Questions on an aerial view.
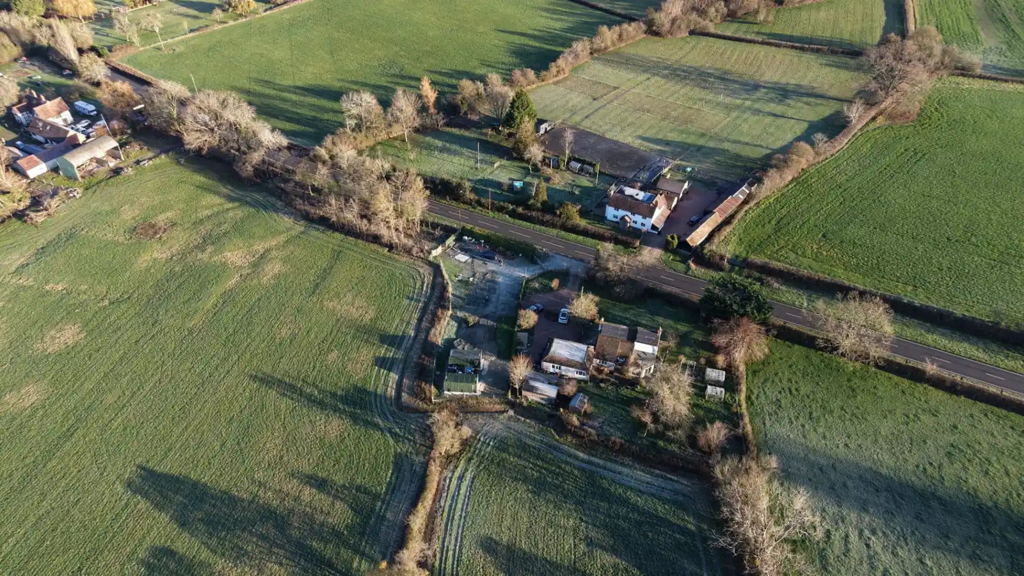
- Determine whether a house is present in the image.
Yes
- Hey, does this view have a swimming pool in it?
No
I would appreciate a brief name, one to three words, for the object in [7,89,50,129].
house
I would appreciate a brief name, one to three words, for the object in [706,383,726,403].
greenhouse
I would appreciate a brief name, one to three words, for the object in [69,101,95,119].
camper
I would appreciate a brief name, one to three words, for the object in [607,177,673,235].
house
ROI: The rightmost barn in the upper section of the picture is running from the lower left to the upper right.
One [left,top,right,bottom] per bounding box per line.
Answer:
[682,175,757,253]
